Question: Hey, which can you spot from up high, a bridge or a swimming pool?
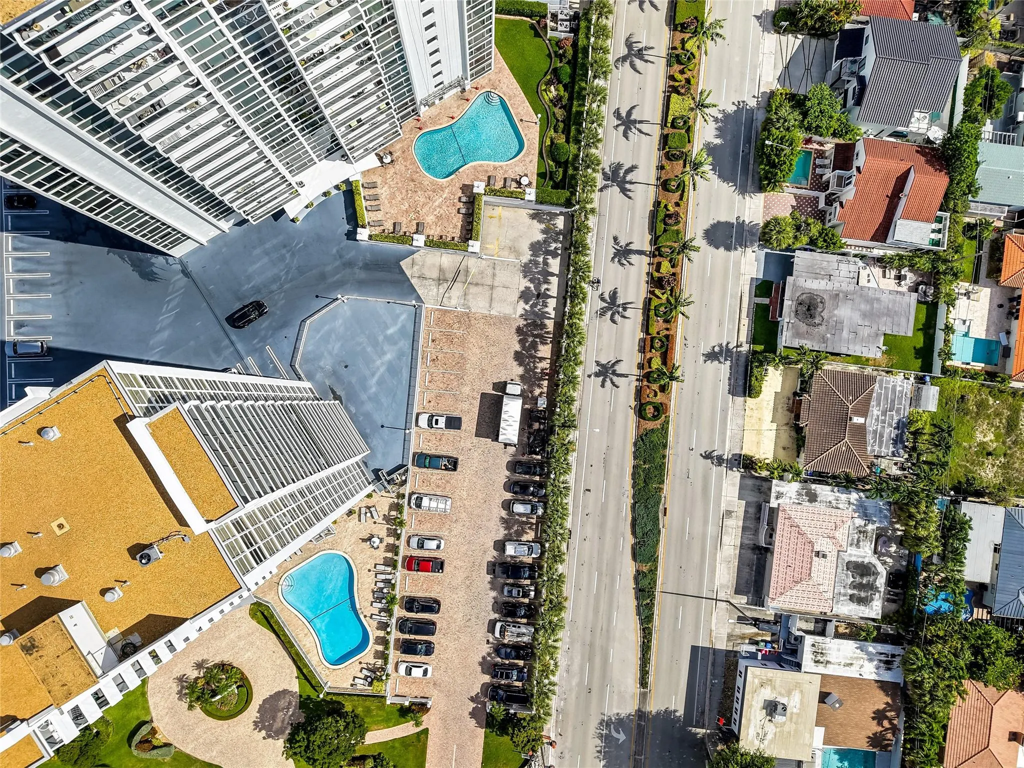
swimming pool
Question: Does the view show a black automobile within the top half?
Yes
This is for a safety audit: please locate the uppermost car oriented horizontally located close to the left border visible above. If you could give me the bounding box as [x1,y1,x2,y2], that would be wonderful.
[2,193,42,211]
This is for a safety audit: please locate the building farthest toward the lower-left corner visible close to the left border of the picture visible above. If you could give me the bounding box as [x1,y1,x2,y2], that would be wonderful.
[0,355,375,768]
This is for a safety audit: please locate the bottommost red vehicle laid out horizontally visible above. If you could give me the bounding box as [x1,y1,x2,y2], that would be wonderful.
[406,555,444,573]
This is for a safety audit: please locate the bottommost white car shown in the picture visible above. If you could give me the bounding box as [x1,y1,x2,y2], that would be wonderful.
[397,659,434,678]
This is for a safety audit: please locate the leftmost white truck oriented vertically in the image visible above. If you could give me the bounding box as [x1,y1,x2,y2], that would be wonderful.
[499,380,524,445]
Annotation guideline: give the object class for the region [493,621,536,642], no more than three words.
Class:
vehicle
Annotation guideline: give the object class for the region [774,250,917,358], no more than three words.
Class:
house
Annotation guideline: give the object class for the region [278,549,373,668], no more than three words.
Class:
swimming pool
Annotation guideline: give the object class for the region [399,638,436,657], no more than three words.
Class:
car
